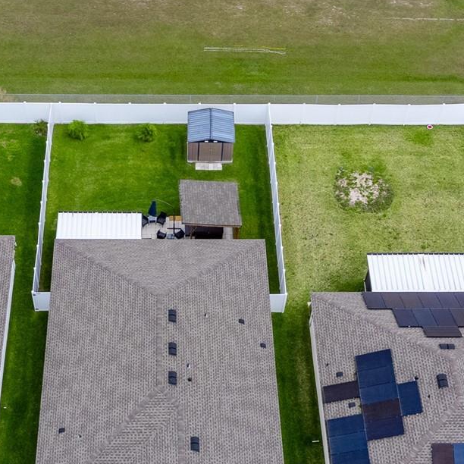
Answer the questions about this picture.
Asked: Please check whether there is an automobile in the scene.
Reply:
No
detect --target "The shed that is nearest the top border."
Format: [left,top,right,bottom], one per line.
[186,107,237,162]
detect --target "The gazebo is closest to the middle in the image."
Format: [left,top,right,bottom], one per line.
[178,179,244,239]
